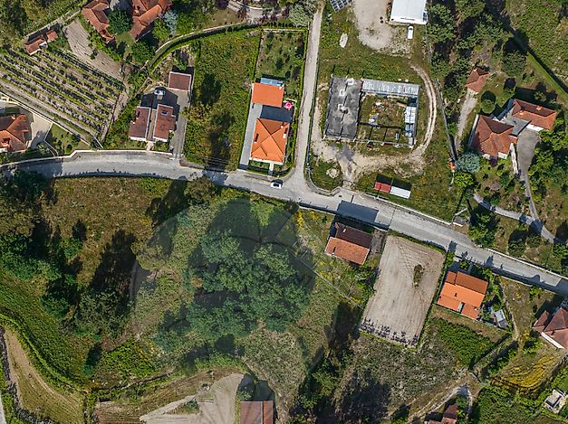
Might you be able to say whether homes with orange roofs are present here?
Yes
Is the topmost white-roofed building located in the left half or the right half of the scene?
right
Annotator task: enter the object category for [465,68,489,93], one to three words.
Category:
shed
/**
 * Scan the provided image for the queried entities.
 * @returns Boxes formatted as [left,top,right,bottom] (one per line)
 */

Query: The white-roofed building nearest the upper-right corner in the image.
[390,0,428,28]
